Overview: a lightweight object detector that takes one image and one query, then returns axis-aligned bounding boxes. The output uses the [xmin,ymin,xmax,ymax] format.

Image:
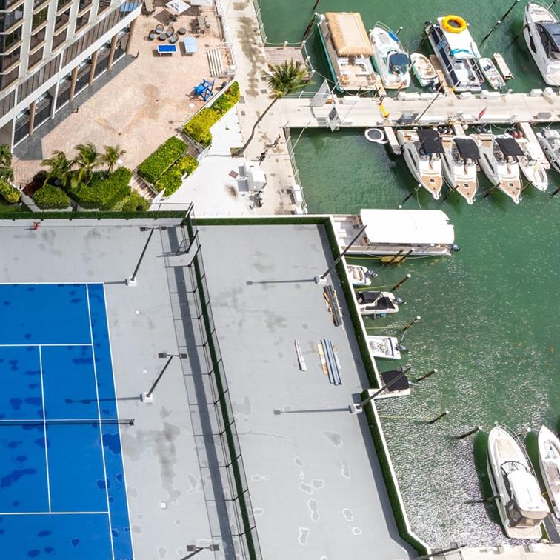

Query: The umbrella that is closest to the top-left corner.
[164,0,191,25]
